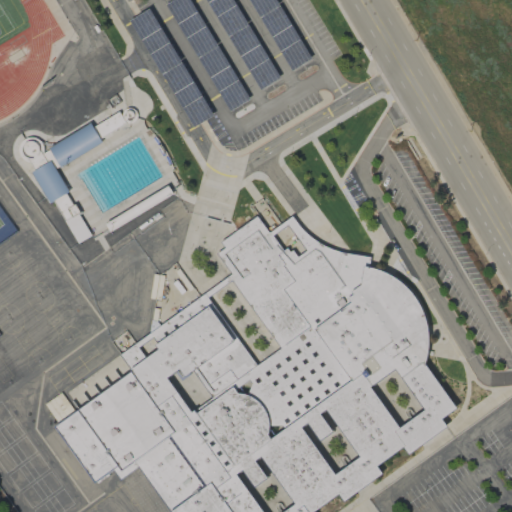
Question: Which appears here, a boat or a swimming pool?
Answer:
swimming pool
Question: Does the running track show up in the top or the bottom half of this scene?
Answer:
top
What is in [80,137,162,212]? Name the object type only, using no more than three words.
swimming pool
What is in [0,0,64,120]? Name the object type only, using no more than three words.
running track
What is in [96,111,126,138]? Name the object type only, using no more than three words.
building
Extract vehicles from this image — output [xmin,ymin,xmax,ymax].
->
[384,176,391,186]
[94,25,101,34]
